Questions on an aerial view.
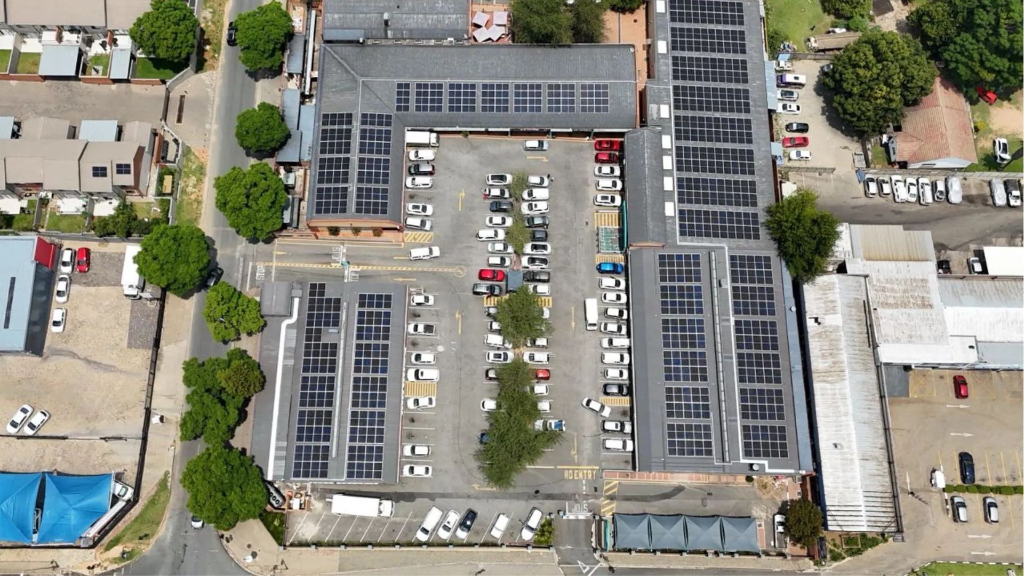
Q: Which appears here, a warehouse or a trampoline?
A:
warehouse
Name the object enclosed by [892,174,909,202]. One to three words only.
vehicle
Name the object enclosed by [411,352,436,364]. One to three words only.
vehicle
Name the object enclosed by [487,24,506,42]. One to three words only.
umbrella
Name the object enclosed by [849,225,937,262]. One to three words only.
building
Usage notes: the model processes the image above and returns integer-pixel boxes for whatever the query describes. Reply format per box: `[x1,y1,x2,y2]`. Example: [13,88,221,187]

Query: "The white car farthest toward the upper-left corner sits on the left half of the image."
[56,247,75,273]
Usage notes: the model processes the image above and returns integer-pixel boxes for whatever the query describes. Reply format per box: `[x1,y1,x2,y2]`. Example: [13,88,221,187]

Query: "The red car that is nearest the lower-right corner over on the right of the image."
[954,375,971,399]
